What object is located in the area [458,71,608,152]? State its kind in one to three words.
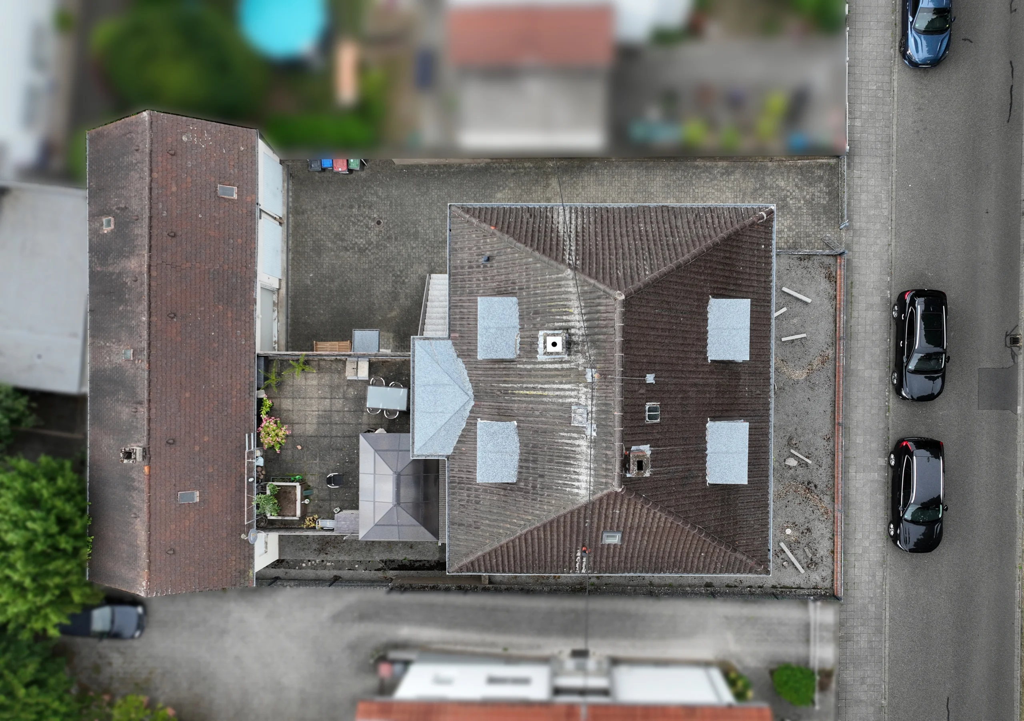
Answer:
building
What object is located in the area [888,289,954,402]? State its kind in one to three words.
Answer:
car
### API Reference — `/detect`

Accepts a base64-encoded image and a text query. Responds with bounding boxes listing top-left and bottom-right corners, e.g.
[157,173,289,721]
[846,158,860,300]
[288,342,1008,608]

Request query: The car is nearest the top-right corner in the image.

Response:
[897,0,961,73]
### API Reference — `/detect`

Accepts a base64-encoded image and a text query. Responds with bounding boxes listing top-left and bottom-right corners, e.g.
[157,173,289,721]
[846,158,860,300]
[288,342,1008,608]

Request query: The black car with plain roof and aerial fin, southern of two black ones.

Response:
[886,436,951,554]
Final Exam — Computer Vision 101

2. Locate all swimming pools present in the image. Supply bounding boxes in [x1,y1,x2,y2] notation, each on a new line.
[236,0,337,73]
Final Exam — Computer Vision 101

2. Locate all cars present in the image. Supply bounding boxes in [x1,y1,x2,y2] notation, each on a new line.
[897,0,961,73]
[28,595,142,653]
[888,289,954,402]
[886,436,951,554]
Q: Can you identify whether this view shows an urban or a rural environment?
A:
urban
